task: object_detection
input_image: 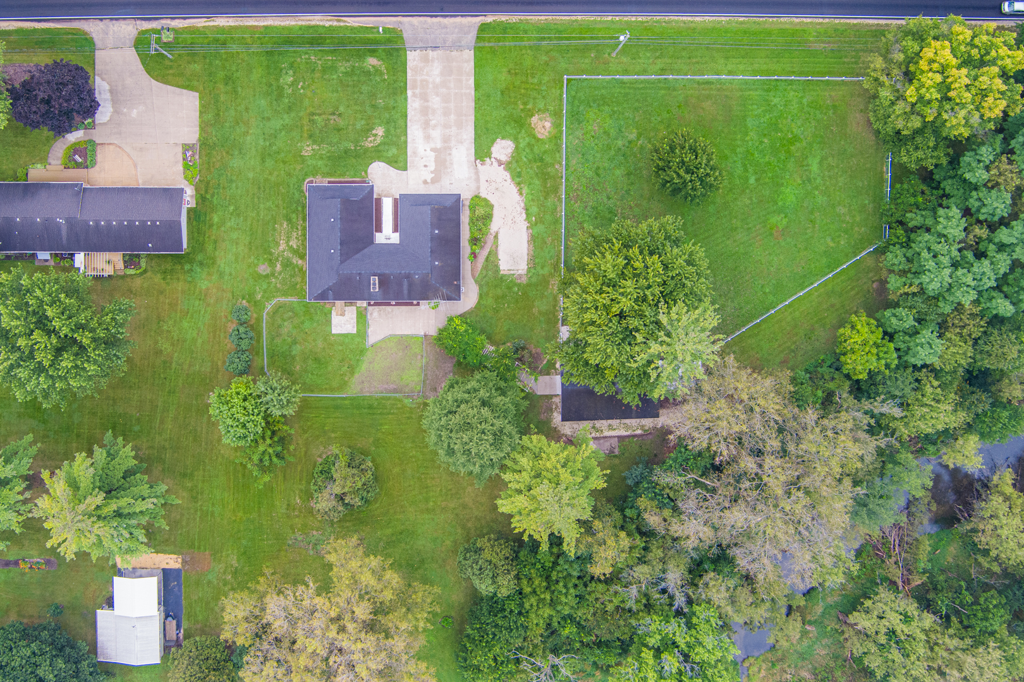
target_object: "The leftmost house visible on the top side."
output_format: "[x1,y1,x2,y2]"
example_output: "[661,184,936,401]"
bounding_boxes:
[0,182,187,253]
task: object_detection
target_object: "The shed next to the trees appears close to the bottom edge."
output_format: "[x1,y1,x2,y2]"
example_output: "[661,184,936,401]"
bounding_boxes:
[97,608,162,664]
